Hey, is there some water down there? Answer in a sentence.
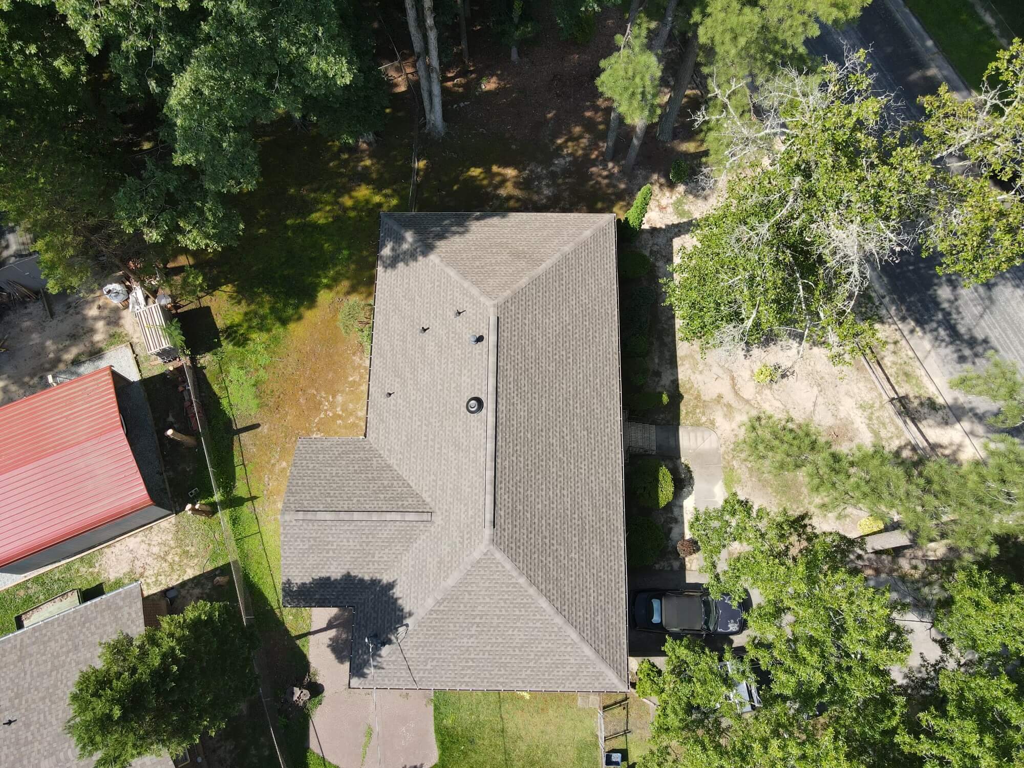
No, water can't be seen anywhere here.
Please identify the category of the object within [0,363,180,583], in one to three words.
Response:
shed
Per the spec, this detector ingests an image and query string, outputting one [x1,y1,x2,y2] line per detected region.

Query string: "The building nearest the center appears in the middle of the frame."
[282,210,632,695]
